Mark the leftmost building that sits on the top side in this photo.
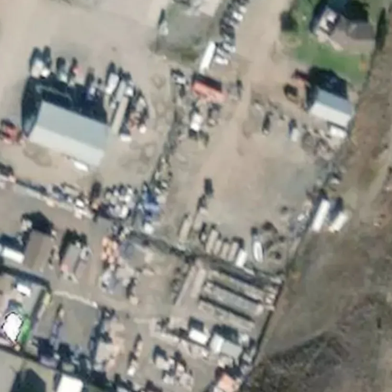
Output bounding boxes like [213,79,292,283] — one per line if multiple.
[26,101,114,168]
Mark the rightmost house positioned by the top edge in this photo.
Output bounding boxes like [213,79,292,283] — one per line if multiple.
[324,7,376,52]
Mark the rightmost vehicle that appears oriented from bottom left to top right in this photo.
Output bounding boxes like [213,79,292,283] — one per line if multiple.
[327,209,349,234]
